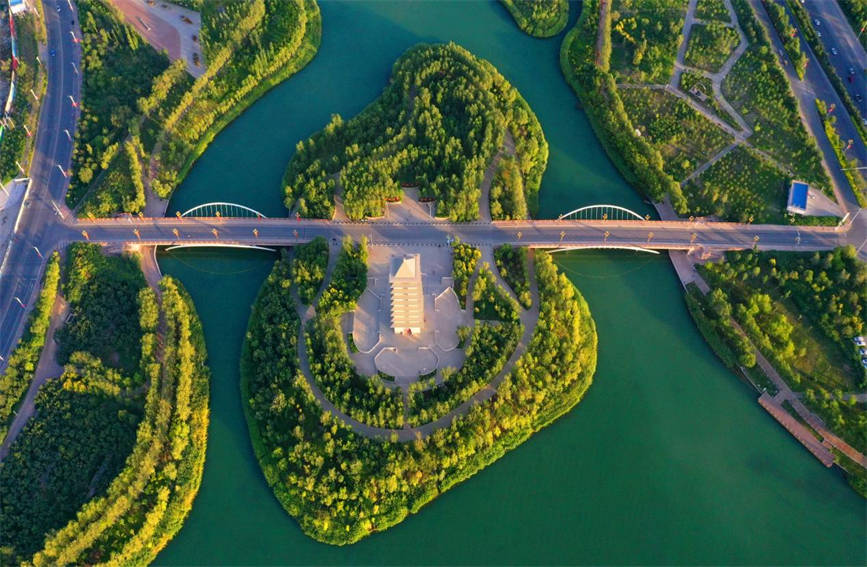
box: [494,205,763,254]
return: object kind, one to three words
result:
bridge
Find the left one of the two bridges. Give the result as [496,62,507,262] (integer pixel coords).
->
[73,203,334,251]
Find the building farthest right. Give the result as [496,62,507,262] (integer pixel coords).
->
[785,179,809,215]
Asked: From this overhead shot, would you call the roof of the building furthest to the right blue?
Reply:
Yes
